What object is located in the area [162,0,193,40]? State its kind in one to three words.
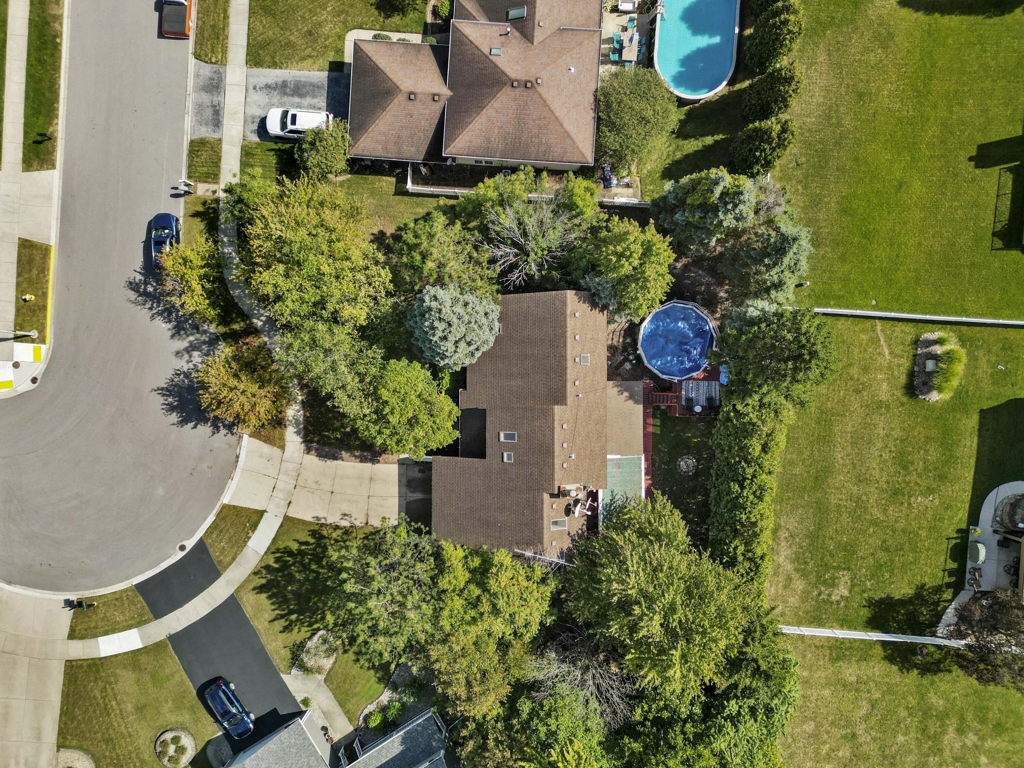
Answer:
truck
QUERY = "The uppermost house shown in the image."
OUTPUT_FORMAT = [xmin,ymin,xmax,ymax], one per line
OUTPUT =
[346,0,605,173]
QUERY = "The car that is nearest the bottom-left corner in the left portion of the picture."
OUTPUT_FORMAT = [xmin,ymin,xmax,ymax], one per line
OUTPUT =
[204,676,257,739]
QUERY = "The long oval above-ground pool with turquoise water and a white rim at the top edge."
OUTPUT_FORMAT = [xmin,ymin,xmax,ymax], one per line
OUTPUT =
[648,0,741,106]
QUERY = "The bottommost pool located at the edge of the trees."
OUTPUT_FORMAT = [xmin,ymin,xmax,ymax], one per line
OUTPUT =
[634,300,717,382]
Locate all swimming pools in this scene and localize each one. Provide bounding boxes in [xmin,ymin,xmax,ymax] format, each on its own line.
[648,0,741,106]
[634,300,717,382]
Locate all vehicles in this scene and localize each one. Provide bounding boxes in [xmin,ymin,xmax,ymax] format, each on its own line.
[204,676,257,739]
[162,0,193,40]
[267,103,335,138]
[149,214,183,277]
